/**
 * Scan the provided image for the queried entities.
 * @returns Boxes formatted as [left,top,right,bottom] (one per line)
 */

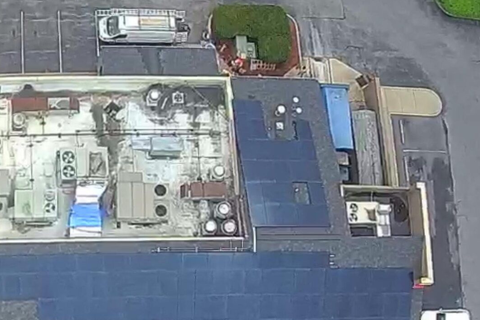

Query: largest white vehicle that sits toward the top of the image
[100,10,186,46]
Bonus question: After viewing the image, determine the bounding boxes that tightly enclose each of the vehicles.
[423,308,474,320]
[100,10,186,46]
